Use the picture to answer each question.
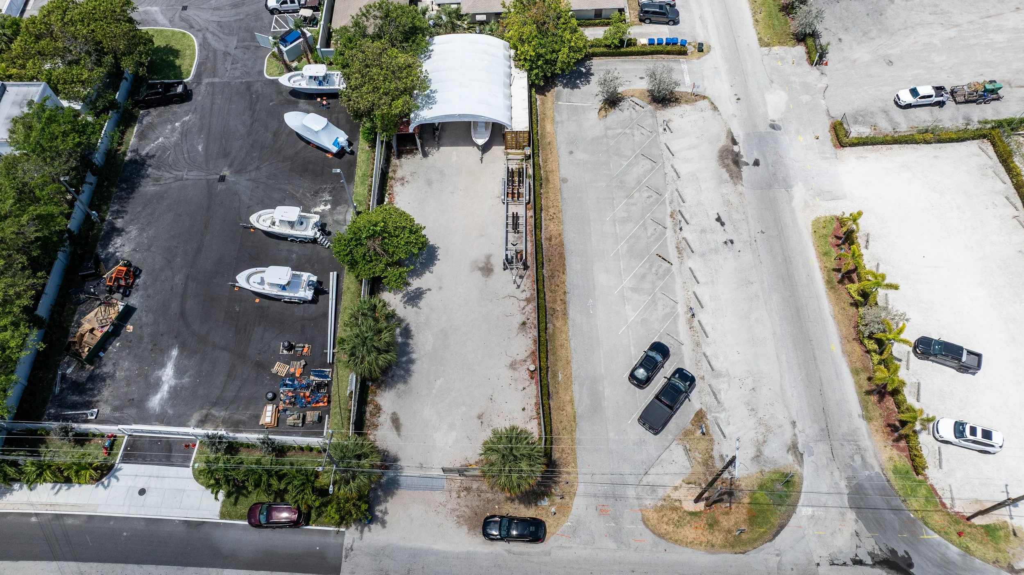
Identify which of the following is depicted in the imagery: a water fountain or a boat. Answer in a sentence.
The one in the frame is a boat.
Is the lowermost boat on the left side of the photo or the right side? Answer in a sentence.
You can find the lowermost boat on the left side of the picture.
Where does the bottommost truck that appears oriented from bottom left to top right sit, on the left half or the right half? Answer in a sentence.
It is on the right.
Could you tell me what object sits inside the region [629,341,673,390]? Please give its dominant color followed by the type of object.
black car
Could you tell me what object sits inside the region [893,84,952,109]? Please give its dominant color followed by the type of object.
white truck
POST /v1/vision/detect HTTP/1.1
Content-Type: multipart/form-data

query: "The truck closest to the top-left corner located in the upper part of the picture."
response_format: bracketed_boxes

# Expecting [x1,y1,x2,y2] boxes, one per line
[131,79,191,108]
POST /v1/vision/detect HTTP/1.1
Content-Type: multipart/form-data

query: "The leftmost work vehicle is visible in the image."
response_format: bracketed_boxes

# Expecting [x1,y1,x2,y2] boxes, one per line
[74,260,139,297]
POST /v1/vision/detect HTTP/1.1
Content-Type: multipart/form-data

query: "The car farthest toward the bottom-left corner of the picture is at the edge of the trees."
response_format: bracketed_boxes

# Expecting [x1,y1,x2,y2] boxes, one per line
[245,498,308,533]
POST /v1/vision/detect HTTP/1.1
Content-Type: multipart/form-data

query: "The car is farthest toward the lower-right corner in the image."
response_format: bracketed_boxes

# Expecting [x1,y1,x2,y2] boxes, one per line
[930,418,1005,458]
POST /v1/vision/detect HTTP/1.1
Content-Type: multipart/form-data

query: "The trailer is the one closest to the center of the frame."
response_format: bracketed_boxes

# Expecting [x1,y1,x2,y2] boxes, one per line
[502,157,531,281]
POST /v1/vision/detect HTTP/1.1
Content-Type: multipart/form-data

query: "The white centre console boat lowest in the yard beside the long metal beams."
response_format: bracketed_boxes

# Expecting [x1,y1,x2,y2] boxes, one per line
[236,267,323,305]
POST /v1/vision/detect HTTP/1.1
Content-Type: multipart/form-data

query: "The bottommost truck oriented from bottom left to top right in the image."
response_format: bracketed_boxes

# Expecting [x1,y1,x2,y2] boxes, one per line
[636,367,698,439]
